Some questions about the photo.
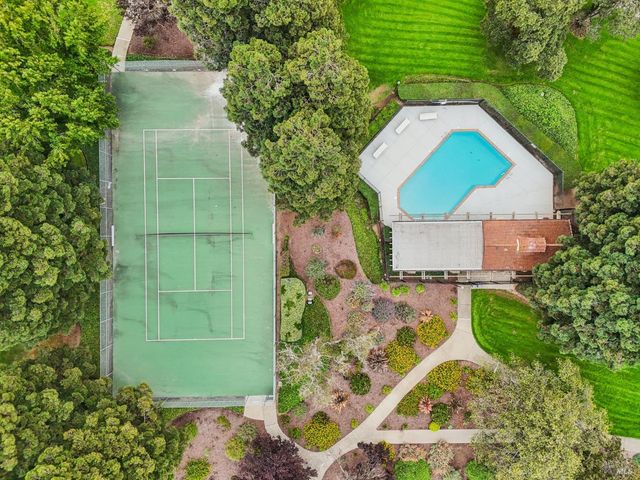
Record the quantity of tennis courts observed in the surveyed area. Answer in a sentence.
I count 1 tennis court.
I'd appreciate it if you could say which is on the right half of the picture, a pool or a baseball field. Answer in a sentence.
The feature located on the right half of the picture is a pool.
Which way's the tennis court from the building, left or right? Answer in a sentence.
You can see the tennis court positioned to the left of the building.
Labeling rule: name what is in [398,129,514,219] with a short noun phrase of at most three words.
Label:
swimming pool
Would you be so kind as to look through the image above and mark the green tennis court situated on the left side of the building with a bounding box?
[111,71,274,397]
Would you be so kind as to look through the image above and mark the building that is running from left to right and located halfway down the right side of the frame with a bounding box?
[388,211,577,281]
